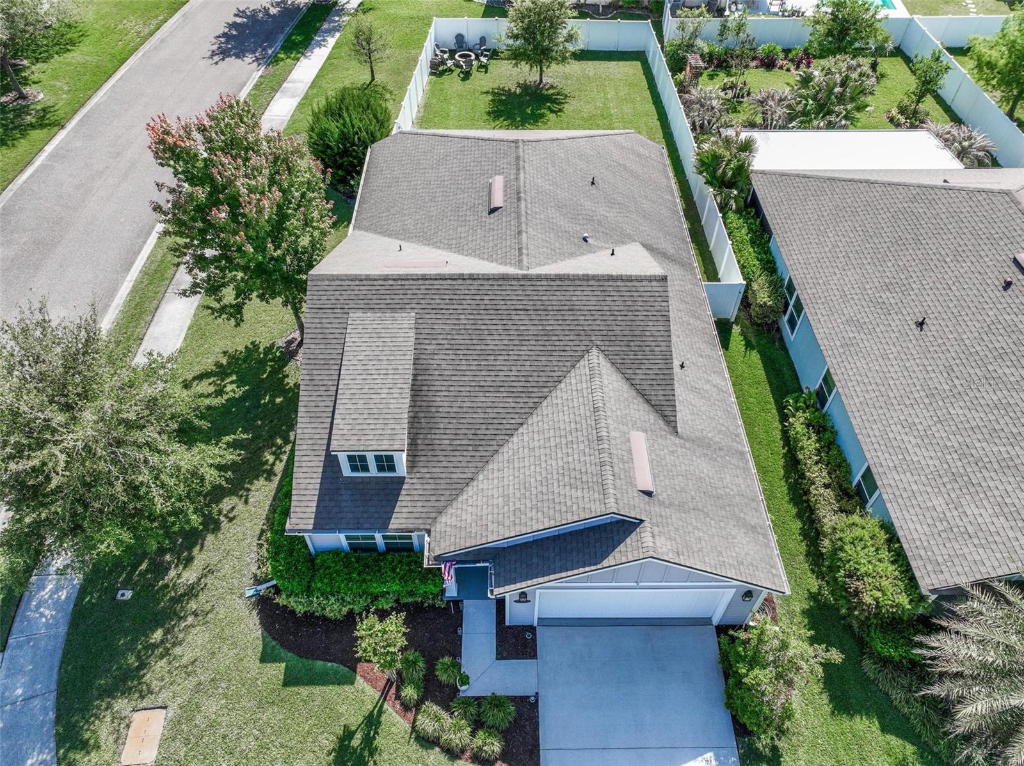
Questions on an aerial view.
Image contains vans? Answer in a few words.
No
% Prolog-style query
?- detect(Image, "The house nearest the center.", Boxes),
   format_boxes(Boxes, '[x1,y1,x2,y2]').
[285,131,795,627]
